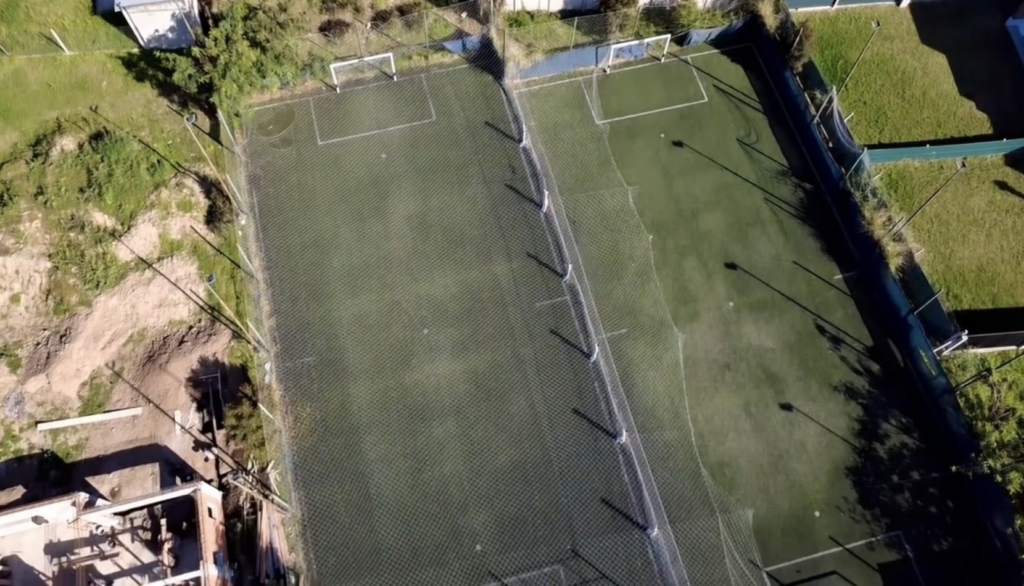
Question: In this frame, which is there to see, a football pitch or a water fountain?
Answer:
football pitch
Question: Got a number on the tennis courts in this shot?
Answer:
zero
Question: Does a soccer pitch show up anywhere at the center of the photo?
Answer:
Yes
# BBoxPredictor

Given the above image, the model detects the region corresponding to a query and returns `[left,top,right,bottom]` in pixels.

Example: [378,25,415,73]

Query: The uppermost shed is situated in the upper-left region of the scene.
[112,0,197,50]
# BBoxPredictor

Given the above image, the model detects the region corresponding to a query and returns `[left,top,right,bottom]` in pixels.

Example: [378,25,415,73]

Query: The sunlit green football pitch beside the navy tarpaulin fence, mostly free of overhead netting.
[502,41,1023,586]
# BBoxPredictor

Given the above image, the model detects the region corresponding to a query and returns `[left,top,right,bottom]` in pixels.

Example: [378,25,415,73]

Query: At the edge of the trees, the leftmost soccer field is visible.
[240,59,659,586]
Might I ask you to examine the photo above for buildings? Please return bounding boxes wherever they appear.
[0,480,236,586]
[112,0,197,50]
